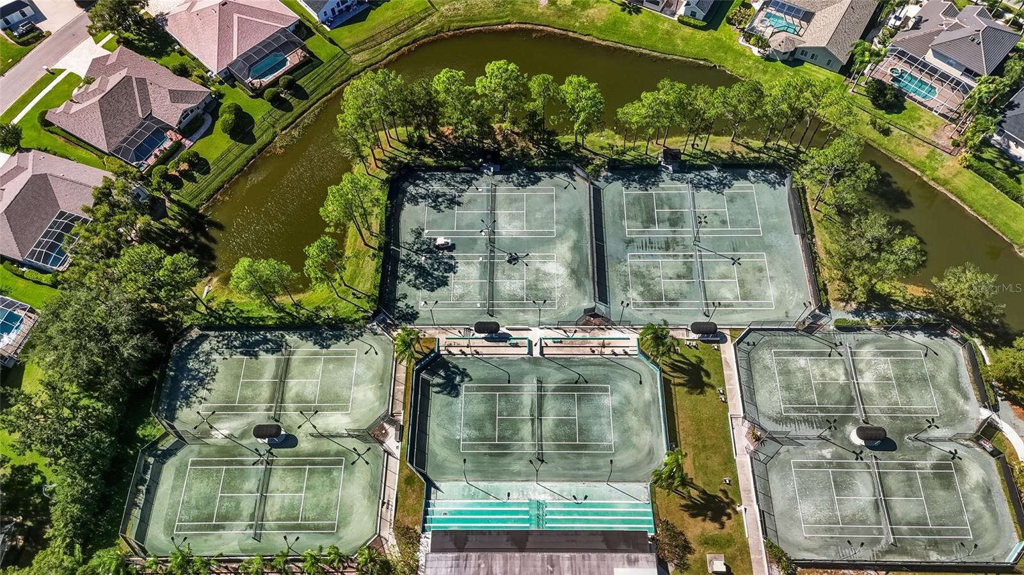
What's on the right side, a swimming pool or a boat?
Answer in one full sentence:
You can see a swimming pool on the right side.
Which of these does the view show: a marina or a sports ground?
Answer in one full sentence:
What you see here is a sports ground.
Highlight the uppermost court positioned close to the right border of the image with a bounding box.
[736,330,979,432]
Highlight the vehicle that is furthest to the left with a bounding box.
[13,21,35,34]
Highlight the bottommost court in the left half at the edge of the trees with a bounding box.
[131,432,383,556]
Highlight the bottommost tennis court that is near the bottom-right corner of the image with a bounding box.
[749,432,1023,560]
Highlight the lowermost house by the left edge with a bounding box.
[0,150,115,262]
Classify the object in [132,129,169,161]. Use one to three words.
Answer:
swimming pool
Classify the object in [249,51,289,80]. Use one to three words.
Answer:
swimming pool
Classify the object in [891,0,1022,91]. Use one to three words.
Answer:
house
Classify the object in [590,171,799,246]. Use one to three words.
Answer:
tennis court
